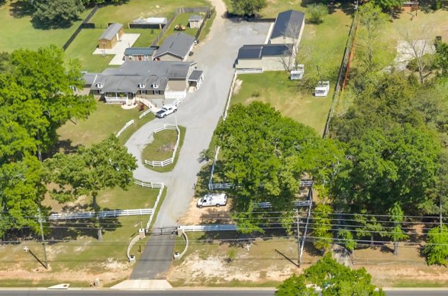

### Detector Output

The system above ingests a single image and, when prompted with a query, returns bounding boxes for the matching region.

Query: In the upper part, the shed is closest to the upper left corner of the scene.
[97,23,123,49]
